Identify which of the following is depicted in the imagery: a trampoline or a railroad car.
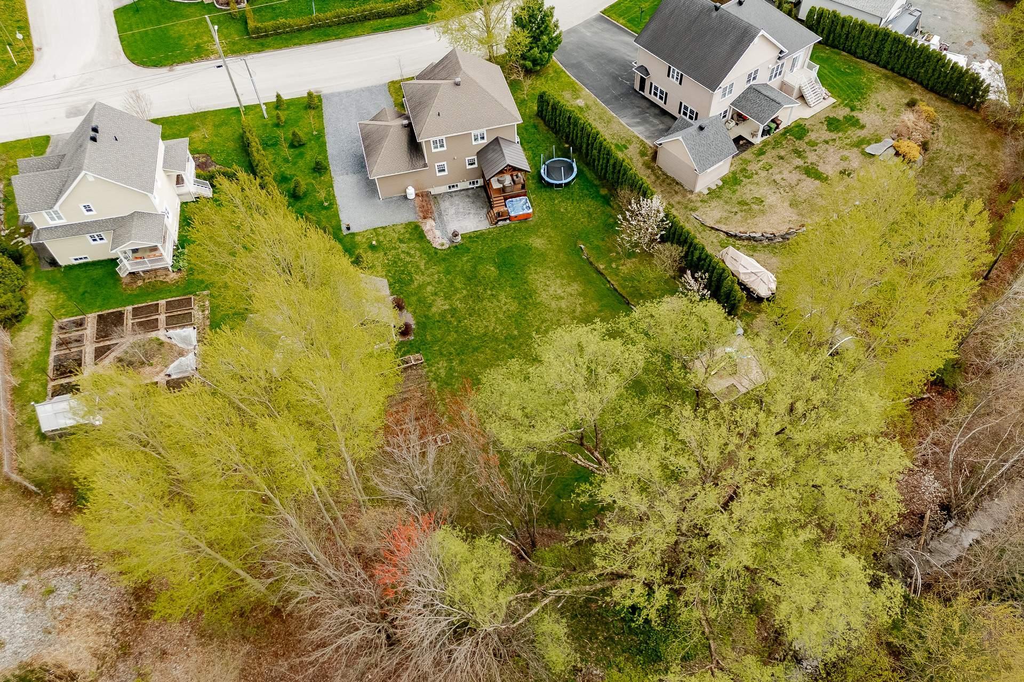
trampoline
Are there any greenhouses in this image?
Yes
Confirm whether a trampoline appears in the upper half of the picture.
Yes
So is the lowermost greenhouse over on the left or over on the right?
left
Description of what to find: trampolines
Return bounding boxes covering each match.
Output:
[541,144,577,190]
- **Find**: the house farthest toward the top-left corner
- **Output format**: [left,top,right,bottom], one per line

[11,102,211,275]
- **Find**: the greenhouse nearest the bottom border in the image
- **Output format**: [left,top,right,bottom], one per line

[35,383,107,435]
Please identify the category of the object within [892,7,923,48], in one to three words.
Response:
shed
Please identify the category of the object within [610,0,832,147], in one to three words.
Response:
house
